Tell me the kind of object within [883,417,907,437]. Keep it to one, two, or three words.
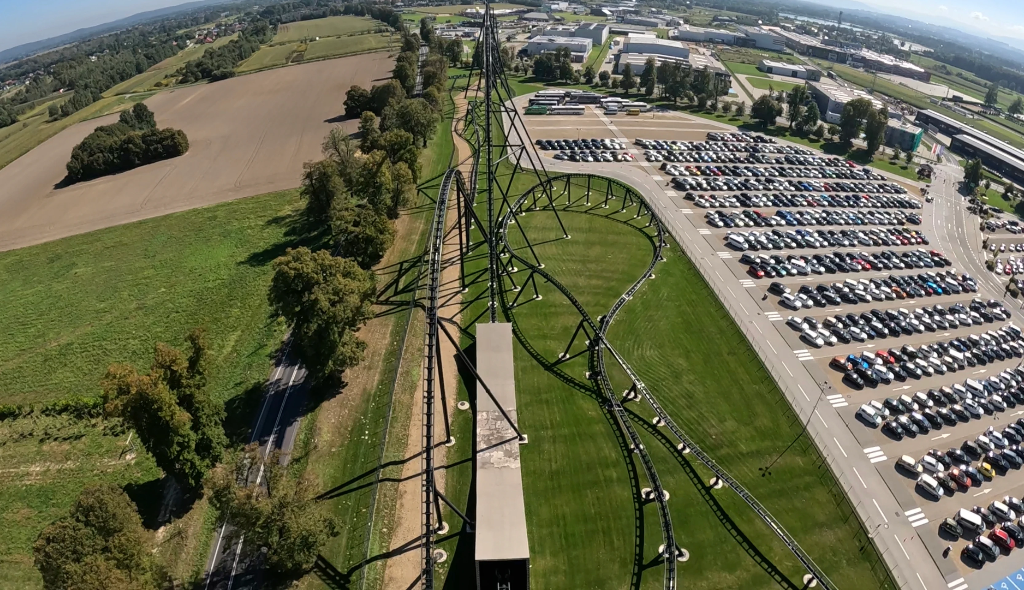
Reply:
car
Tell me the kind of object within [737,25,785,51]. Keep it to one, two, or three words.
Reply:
building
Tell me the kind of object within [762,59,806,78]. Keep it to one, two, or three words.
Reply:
shed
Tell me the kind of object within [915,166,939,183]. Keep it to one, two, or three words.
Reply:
gazebo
